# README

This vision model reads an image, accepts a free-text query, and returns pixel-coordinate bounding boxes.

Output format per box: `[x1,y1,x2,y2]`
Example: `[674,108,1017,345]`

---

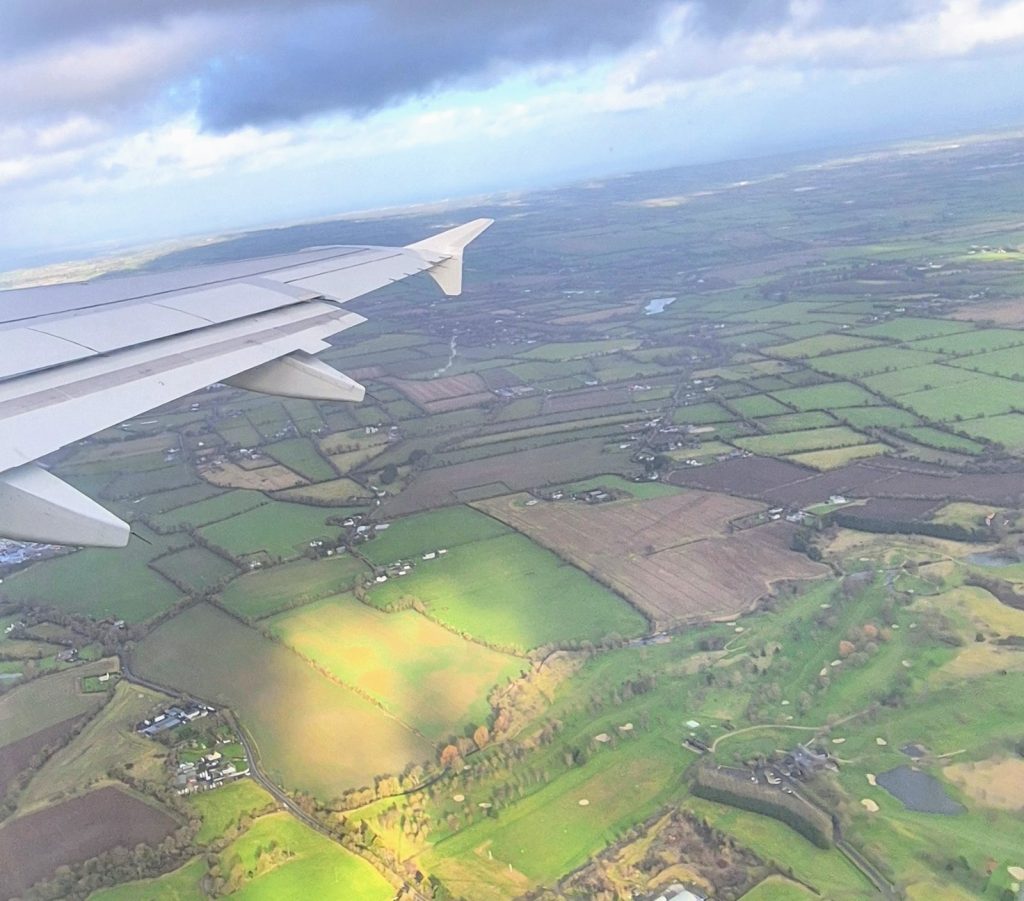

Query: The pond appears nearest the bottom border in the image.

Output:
[875,765,968,814]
